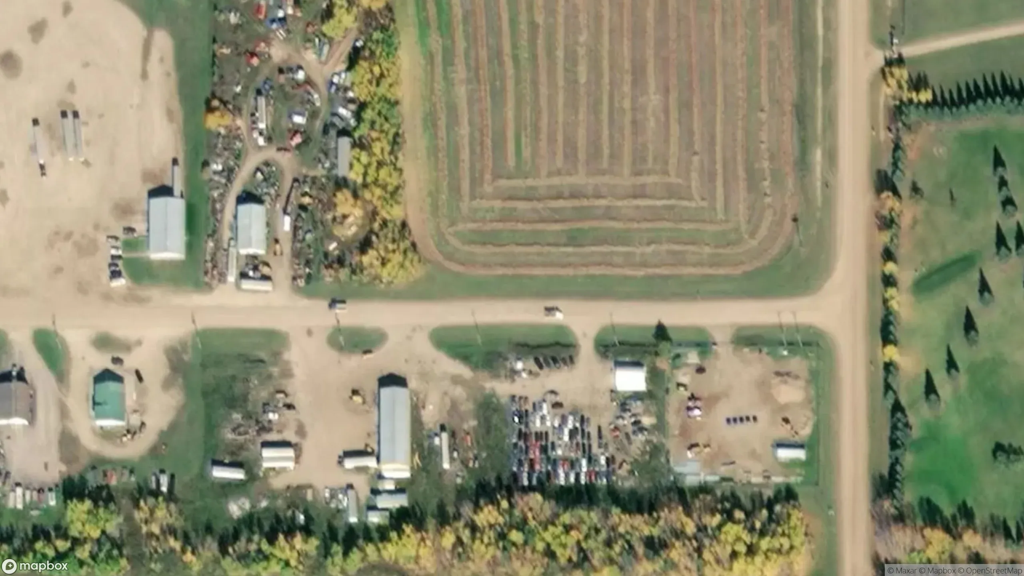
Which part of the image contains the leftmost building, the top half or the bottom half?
bottom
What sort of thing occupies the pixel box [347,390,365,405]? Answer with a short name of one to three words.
work vehicle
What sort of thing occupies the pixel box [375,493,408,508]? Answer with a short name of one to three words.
building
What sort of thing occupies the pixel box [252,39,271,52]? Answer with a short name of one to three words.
vehicle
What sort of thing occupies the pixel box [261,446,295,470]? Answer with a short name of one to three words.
shed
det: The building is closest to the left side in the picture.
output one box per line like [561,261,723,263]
[0,378,36,421]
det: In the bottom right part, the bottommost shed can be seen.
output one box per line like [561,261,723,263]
[776,448,806,463]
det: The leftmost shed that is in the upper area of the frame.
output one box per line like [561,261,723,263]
[148,194,187,260]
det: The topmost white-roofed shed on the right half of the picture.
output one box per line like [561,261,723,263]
[615,364,647,396]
